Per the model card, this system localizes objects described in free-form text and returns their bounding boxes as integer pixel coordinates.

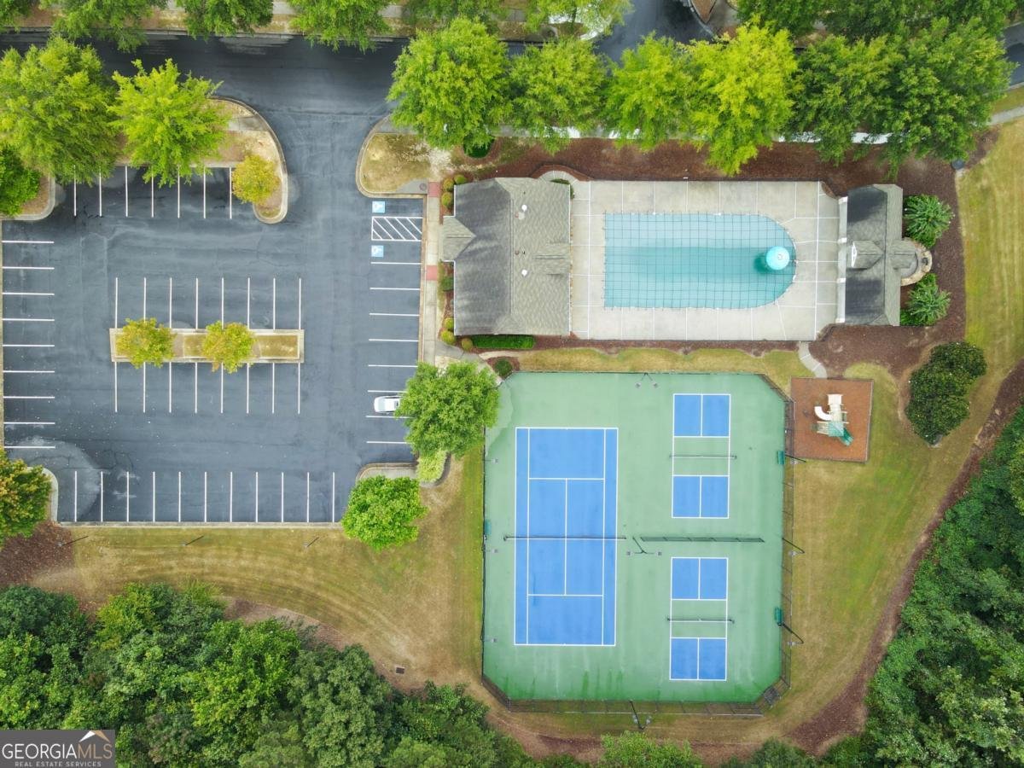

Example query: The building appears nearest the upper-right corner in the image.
[835,185,919,326]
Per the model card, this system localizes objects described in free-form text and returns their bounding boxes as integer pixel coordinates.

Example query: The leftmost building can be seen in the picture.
[441,177,571,336]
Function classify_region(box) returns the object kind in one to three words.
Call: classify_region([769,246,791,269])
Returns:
fountain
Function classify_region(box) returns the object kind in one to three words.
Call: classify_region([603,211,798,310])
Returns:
swimming pool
